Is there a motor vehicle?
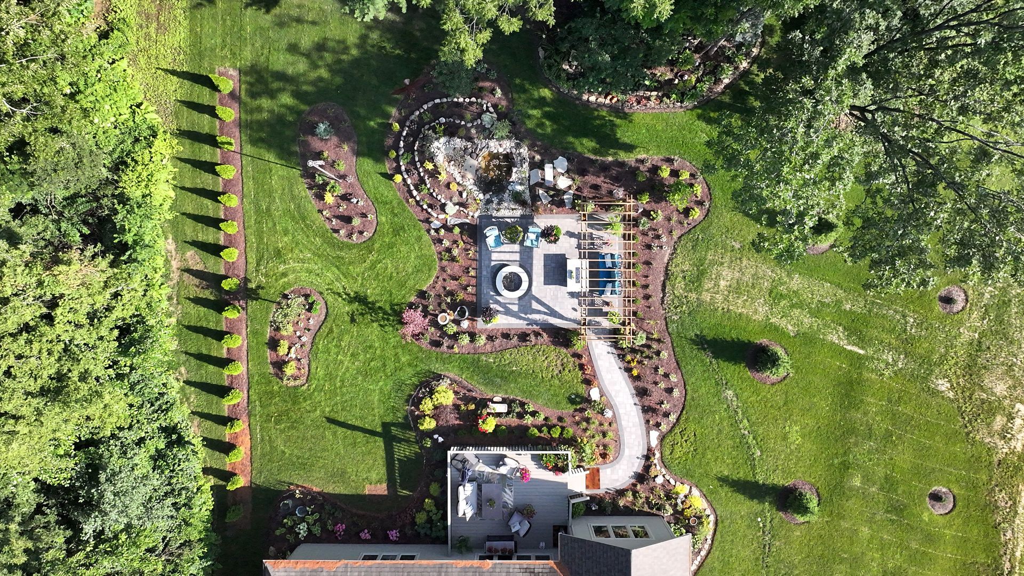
No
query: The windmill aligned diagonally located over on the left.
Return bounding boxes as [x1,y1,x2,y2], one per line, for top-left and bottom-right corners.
[307,159,344,182]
